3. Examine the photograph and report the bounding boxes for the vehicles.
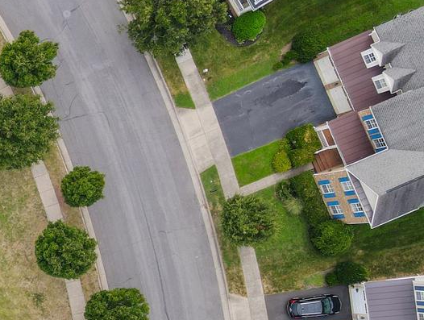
[283,294,339,320]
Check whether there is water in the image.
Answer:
No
